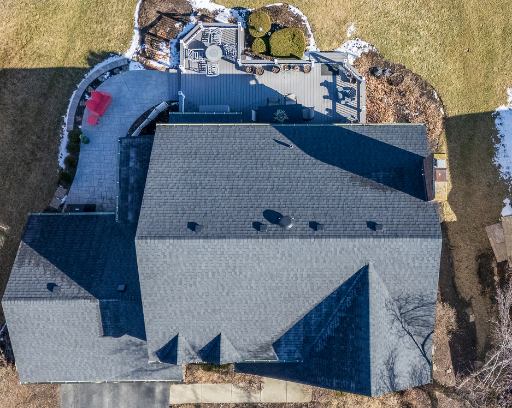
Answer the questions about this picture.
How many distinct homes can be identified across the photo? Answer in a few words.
1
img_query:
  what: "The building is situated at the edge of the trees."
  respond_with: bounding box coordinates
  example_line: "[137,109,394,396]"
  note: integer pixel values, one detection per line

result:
[3,112,450,397]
